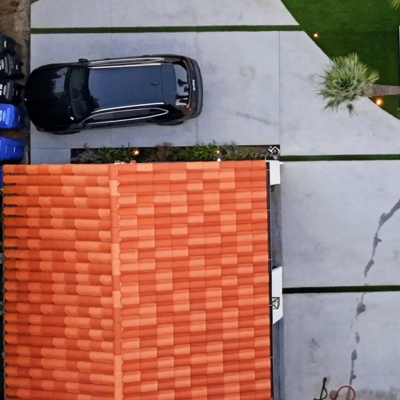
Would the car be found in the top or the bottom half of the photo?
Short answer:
top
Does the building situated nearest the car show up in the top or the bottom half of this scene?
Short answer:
bottom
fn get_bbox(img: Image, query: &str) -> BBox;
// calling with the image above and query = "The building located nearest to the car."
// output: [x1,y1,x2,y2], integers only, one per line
[0,156,283,400]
